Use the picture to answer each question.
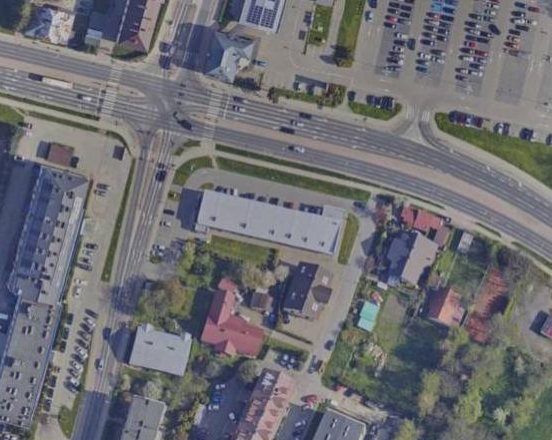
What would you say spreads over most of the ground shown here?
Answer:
paved ground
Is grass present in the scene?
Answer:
Yes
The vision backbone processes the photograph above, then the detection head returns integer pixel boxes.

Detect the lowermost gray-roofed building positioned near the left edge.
[0,294,64,431]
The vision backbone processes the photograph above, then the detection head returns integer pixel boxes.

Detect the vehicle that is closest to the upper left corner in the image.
[41,76,74,91]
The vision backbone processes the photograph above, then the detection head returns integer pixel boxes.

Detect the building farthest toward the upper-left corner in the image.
[25,7,74,46]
